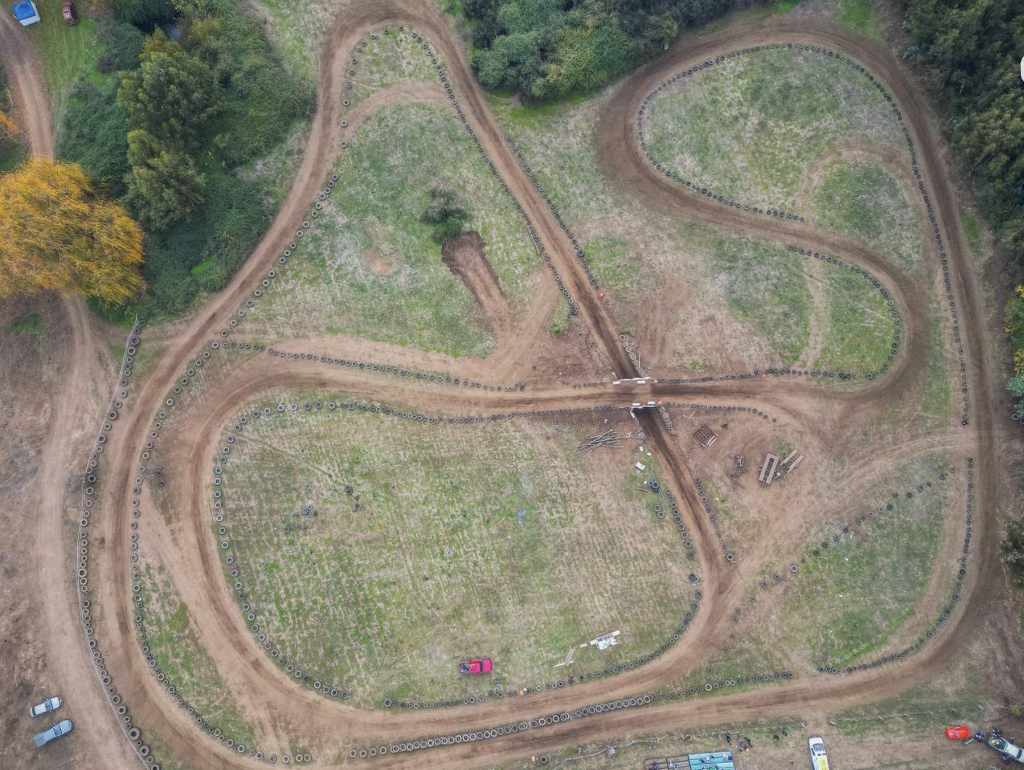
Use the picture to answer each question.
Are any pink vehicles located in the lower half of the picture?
Yes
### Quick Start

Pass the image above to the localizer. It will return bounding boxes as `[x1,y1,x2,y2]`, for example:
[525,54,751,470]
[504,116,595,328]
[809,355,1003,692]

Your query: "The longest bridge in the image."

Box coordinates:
[612,377,667,407]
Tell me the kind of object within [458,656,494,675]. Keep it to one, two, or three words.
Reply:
vehicle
